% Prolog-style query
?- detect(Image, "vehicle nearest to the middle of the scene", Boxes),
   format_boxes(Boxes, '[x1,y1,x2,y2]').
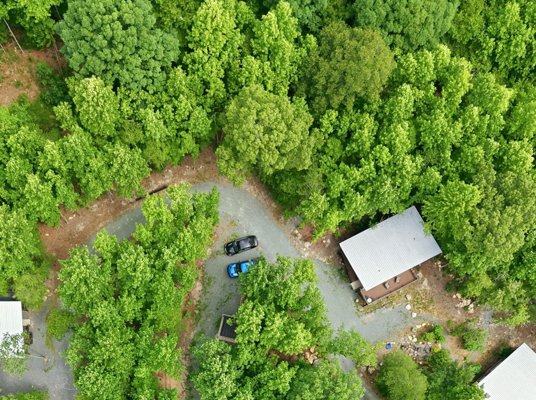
[223,235,260,257]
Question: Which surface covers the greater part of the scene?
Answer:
trees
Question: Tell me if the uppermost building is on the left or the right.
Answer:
right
